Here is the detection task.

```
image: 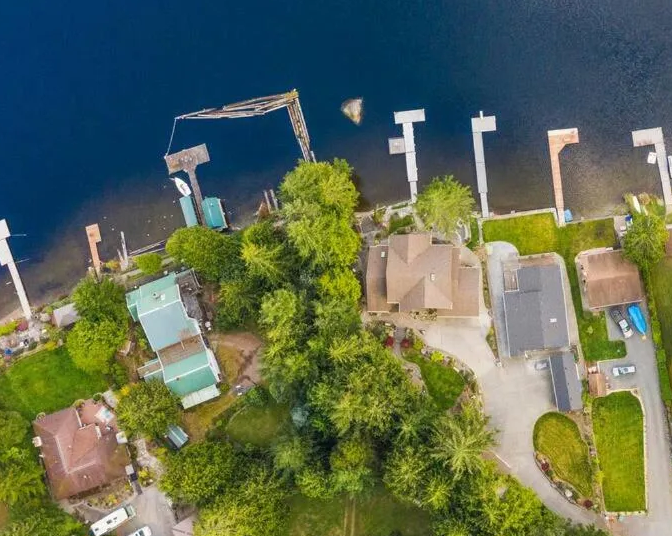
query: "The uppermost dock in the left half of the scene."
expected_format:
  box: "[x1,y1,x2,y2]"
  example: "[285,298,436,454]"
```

[164,143,211,226]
